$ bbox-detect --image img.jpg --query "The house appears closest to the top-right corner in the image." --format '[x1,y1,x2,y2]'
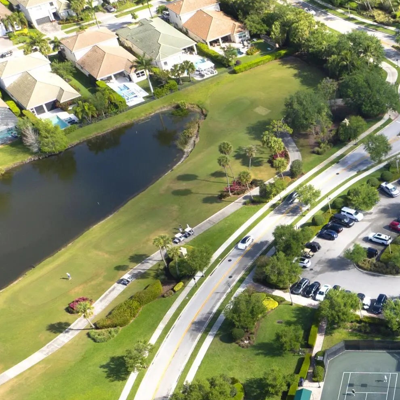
[164,0,249,49]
